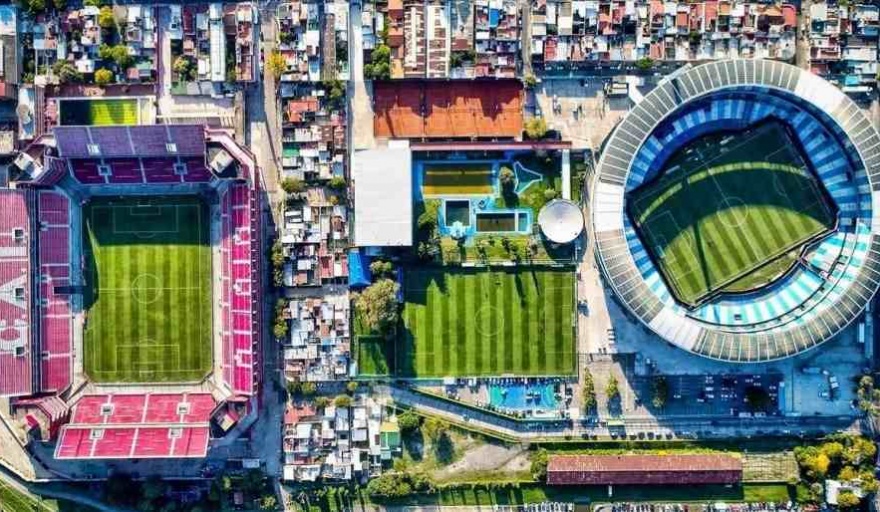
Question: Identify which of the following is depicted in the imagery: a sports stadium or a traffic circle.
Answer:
sports stadium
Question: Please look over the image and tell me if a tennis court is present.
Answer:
Yes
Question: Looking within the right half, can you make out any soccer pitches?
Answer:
Yes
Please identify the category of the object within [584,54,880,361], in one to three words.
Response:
stadium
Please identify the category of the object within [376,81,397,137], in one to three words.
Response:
tennis court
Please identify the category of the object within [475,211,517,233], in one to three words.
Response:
swimming pool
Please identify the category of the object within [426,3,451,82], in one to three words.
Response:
building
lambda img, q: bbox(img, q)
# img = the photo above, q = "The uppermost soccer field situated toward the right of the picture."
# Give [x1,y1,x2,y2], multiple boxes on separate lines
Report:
[630,120,830,305]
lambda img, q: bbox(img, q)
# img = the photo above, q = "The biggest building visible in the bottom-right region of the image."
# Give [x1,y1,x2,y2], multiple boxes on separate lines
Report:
[547,453,745,498]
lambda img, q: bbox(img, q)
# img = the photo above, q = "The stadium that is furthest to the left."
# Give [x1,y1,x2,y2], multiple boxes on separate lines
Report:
[0,125,267,459]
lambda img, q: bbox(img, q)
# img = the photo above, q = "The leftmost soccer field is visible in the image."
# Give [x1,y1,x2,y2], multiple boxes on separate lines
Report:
[83,197,211,383]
